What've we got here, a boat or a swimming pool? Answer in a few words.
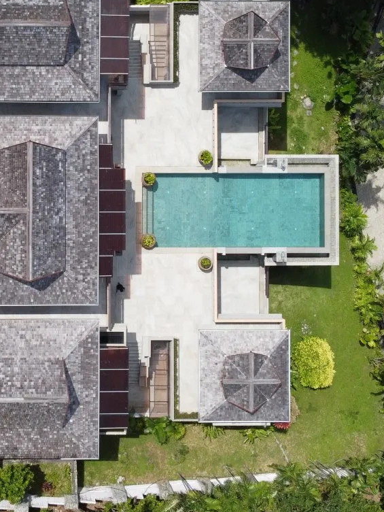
swimming pool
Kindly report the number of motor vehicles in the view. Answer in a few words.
0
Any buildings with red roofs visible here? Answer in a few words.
No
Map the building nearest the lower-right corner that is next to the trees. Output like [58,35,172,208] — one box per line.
[198,329,289,428]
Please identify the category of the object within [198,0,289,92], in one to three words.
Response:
building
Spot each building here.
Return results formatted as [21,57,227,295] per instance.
[0,116,125,307]
[0,319,129,461]
[198,0,289,92]
[198,329,289,428]
[0,0,130,103]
